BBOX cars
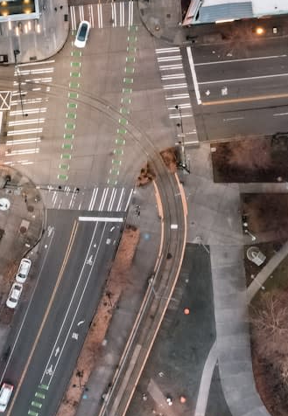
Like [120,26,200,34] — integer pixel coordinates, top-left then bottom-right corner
[0,382,12,413]
[16,256,31,284]
[6,281,23,309]
[75,18,90,47]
